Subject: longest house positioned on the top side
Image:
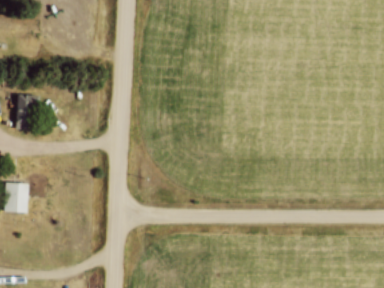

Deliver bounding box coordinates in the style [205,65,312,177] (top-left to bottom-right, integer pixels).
[17,94,34,130]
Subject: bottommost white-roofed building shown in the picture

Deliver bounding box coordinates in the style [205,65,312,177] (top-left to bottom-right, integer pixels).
[5,182,30,214]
